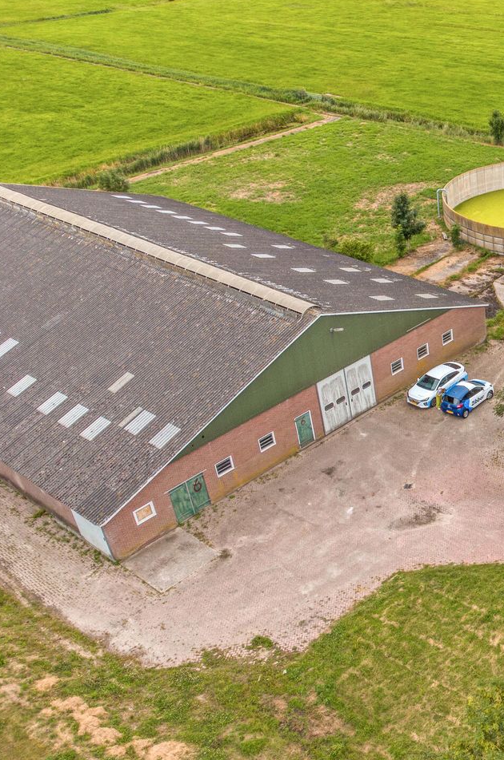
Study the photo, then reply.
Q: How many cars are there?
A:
2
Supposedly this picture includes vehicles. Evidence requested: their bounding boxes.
[408,355,470,404]
[439,378,495,418]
